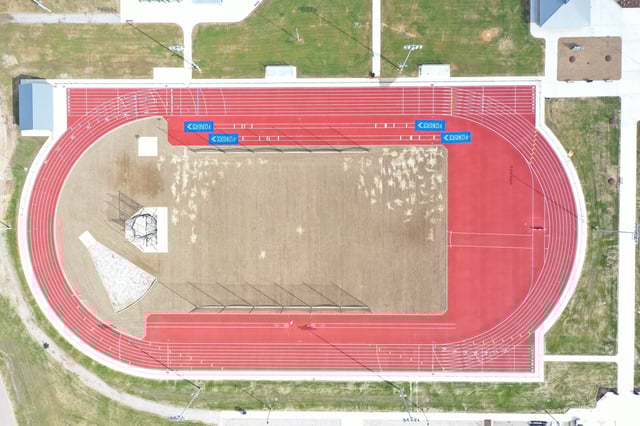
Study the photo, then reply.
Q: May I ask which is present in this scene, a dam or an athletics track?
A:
athletics track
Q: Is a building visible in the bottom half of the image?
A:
No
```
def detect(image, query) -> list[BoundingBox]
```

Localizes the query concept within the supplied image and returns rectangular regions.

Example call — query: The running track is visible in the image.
[27,85,577,372]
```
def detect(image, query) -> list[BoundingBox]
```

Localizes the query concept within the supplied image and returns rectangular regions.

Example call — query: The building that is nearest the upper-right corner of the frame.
[538,0,591,29]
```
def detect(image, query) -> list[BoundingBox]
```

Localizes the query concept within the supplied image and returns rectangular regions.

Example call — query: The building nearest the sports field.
[18,82,57,130]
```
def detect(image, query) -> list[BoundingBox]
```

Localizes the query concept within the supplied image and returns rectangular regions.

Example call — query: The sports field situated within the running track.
[55,117,448,339]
